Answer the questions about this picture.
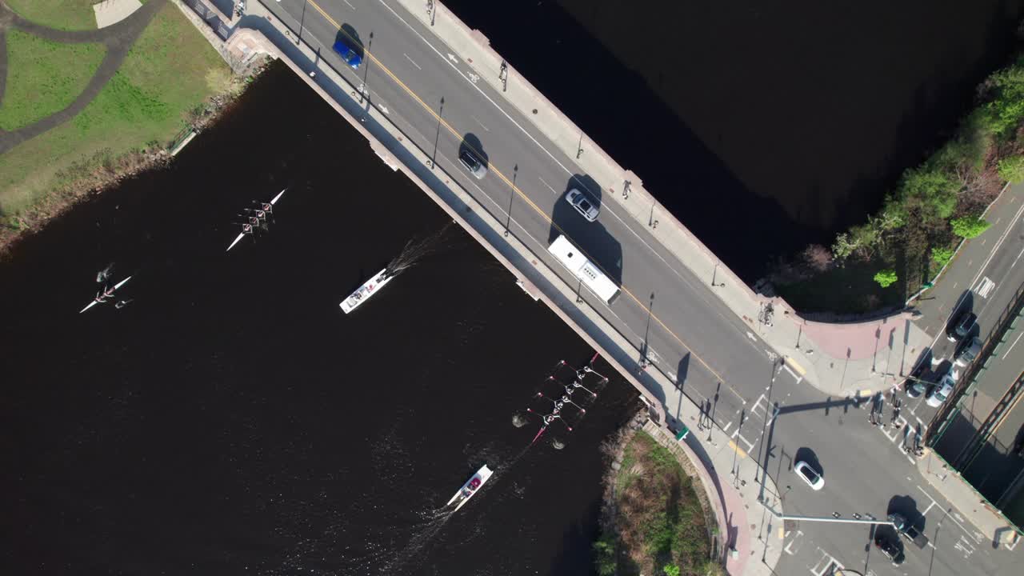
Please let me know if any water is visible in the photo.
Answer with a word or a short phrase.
Yes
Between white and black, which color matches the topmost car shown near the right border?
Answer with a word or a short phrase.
black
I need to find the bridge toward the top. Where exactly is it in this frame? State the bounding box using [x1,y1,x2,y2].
[197,0,786,433]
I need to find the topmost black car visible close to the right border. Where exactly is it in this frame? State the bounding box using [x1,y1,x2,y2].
[944,306,977,343]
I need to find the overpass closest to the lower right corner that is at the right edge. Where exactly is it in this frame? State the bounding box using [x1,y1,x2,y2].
[925,446,1024,533]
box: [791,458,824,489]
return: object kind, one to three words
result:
car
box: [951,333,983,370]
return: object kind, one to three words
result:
car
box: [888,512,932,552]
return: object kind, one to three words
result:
truck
